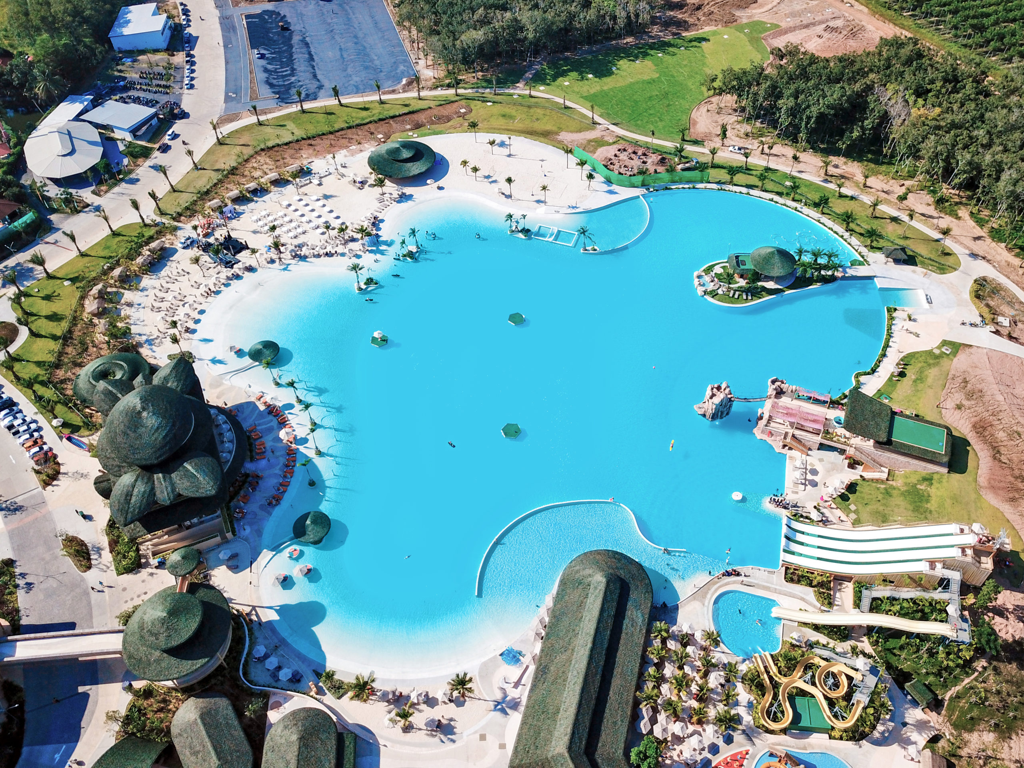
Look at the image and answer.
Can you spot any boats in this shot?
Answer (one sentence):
Yes, you can see a boat in this photo.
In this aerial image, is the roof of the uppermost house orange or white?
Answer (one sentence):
From above, the roof of the uppermost house appears white.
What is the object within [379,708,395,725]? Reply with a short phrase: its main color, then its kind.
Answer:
white umbrella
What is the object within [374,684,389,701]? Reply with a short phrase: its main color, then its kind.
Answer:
white umbrella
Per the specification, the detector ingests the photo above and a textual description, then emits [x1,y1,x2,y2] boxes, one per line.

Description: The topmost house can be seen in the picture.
[108,3,171,49]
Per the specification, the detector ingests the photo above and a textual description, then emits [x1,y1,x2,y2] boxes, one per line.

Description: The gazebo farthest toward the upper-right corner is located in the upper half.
[881,247,908,266]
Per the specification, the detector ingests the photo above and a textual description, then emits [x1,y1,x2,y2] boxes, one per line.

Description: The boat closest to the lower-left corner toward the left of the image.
[55,426,90,451]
